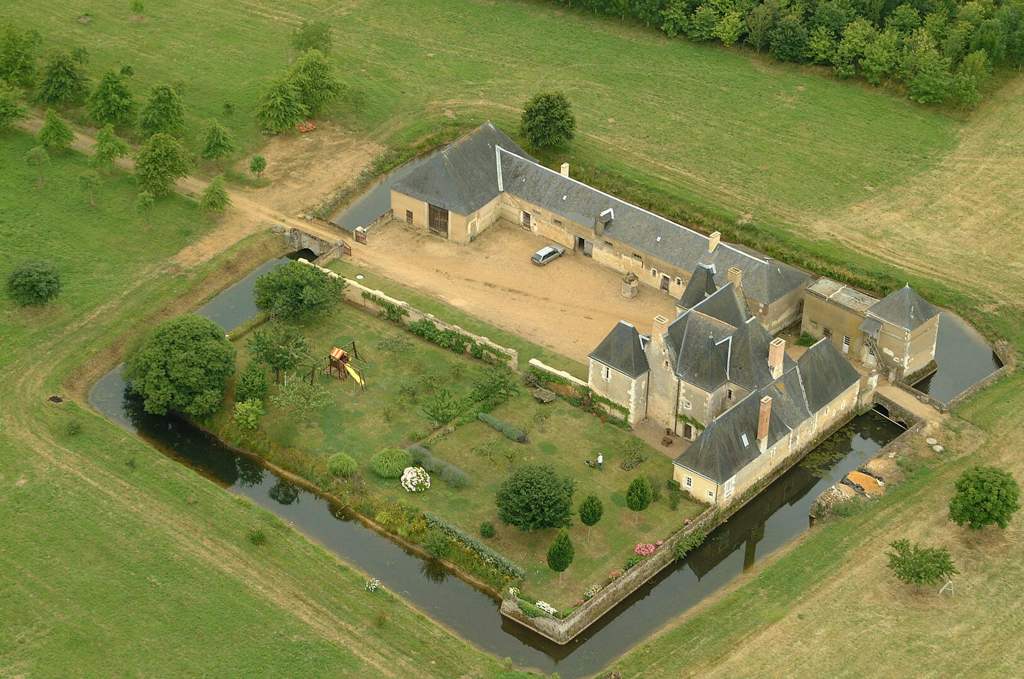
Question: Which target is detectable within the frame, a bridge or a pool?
bridge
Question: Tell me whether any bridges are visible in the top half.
Yes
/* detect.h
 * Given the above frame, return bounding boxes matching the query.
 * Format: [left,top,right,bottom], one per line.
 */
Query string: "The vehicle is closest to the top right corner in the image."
[531,244,566,265]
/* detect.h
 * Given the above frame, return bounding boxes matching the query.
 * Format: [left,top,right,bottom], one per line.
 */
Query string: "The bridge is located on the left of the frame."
[275,215,364,258]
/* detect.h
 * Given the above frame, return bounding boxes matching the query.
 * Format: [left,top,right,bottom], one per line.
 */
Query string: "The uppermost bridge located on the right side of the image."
[865,380,946,428]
